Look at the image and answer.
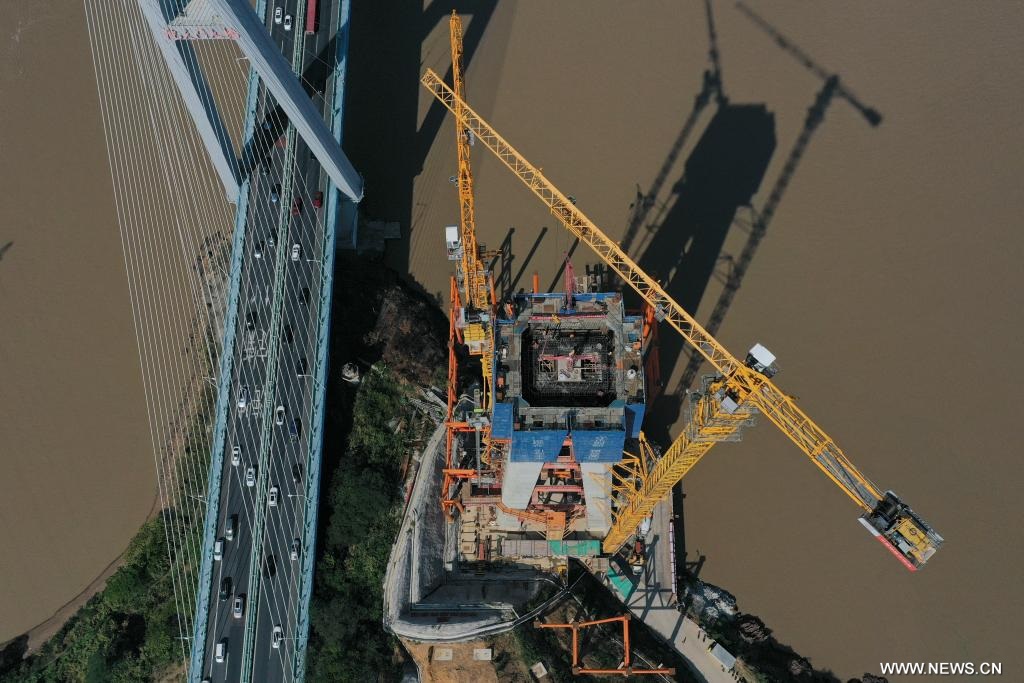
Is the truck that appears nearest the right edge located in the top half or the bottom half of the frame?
bottom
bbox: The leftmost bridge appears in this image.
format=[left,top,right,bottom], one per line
[81,0,413,683]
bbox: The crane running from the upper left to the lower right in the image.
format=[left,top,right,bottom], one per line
[427,66,949,575]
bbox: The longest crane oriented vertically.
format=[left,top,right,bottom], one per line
[445,9,515,491]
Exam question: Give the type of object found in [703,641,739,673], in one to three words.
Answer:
truck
